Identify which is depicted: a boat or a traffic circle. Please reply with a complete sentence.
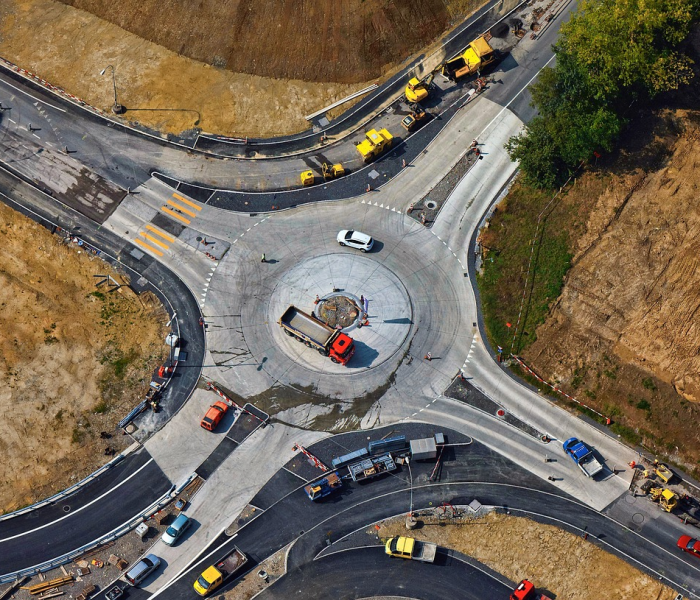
The one in the frame is a traffic circle.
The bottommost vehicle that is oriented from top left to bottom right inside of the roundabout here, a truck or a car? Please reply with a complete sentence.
In the photo, the bottommost vehicle that is oriented from top left to bottom right inside of the roundabout shows up as a truck.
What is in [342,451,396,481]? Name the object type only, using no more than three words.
trailer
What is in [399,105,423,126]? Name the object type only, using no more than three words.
work vehicle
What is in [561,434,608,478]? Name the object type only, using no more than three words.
truck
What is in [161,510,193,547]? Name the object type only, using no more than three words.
car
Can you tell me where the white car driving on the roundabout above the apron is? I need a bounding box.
[336,230,375,254]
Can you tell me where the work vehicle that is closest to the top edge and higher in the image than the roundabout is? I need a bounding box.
[409,64,446,103]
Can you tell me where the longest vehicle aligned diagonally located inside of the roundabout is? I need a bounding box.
[277,301,360,366]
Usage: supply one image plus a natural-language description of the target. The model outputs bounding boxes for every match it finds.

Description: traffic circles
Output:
[205,202,477,432]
